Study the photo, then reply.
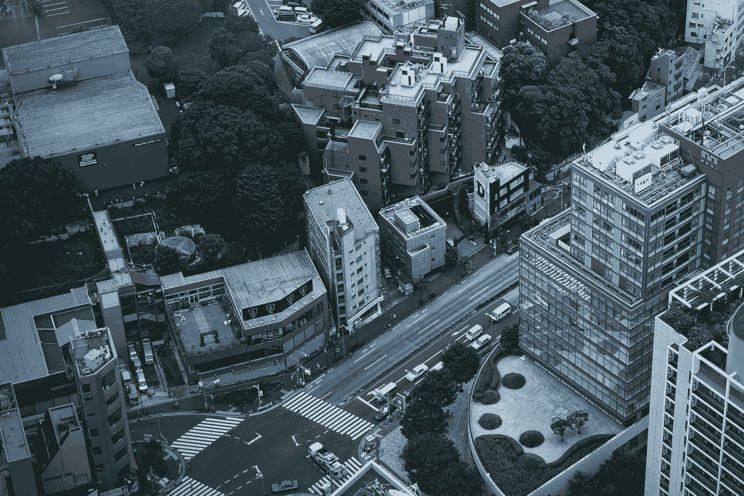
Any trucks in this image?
Yes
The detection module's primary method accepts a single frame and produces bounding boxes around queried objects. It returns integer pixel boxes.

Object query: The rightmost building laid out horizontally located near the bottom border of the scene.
[337,462,421,496]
